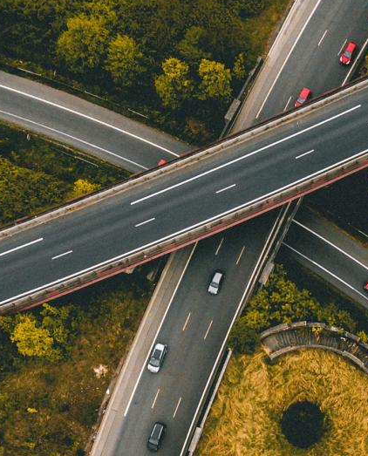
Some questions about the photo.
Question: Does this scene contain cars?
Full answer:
Yes, there's a car here.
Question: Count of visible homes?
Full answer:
Not a single home can be seen.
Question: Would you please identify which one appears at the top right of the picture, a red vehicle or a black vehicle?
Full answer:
Visible at the top right of the picture is a red vehicle.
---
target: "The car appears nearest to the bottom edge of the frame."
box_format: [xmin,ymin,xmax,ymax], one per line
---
[145,419,166,453]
